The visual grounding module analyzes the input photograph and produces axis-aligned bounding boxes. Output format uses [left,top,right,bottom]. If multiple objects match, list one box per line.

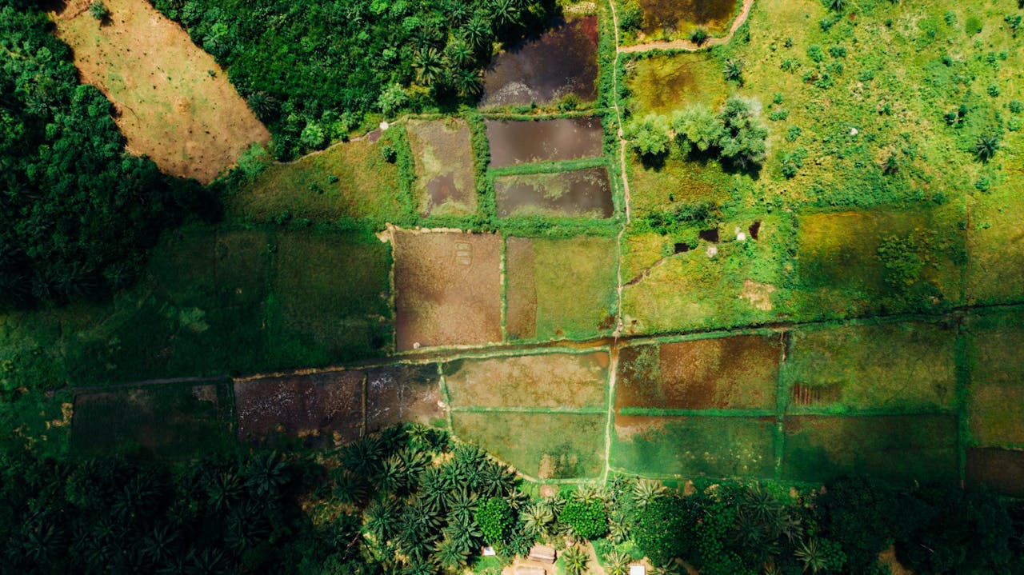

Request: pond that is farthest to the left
[406,117,478,217]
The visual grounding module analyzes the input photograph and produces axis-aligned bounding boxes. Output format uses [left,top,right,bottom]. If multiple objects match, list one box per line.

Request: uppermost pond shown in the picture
[643,0,736,38]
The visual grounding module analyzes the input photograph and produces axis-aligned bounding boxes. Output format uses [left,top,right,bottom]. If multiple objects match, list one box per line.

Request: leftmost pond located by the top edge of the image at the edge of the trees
[478,13,600,107]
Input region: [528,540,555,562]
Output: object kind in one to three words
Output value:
shed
